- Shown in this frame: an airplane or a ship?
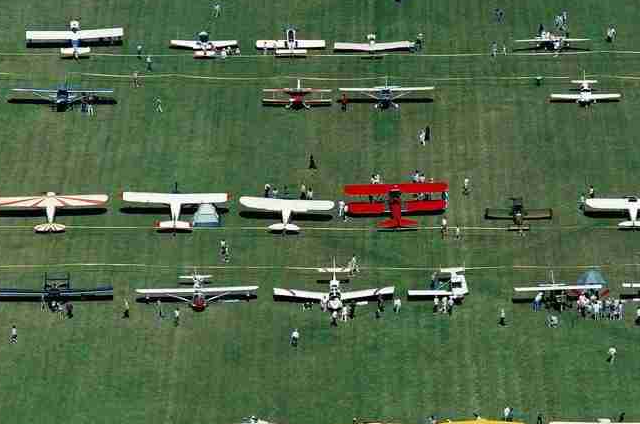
airplane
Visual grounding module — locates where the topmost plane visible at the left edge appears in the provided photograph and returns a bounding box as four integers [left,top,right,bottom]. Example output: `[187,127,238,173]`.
[25,17,123,59]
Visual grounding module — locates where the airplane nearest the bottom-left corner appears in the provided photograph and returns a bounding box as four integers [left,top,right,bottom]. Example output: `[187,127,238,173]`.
[0,272,113,312]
